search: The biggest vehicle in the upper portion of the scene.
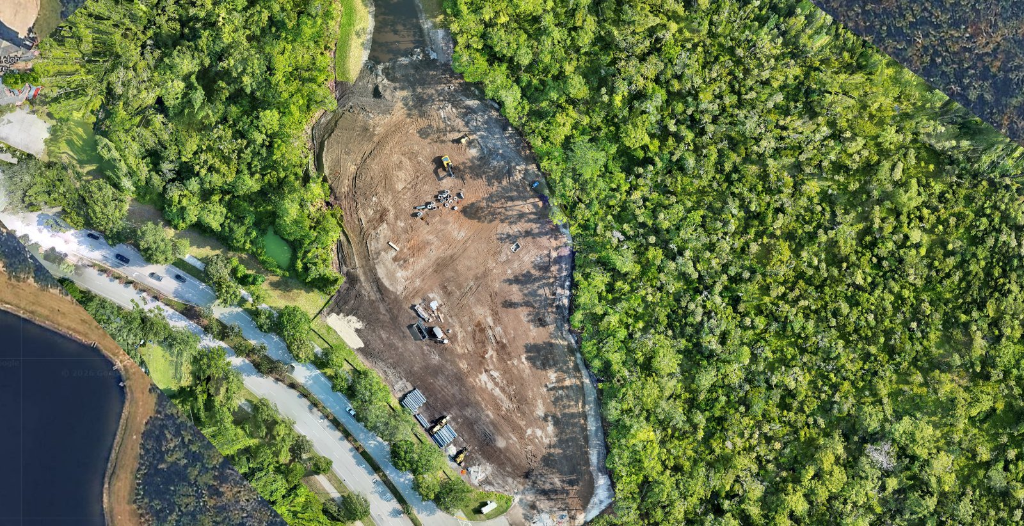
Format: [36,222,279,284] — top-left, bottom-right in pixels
[441,155,457,180]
